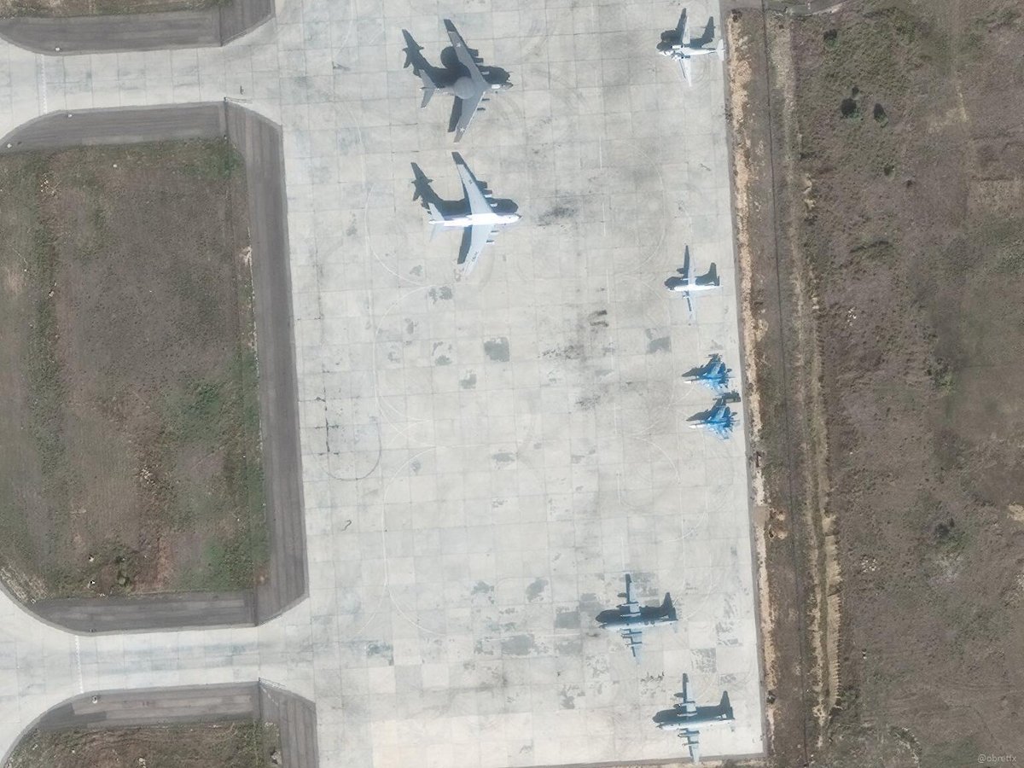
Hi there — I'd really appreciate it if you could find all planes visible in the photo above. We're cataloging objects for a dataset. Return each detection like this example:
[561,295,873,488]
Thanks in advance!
[690,406,738,439]
[669,256,722,320]
[684,362,733,395]
[659,17,727,86]
[599,583,677,665]
[657,682,736,764]
[427,166,522,276]
[418,33,517,144]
